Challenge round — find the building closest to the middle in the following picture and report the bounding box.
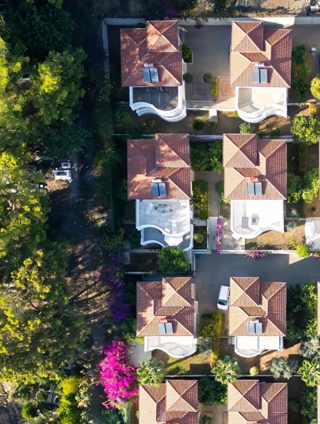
[126,131,195,244]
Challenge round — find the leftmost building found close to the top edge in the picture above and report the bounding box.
[120,19,187,127]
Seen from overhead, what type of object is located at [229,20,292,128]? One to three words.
house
